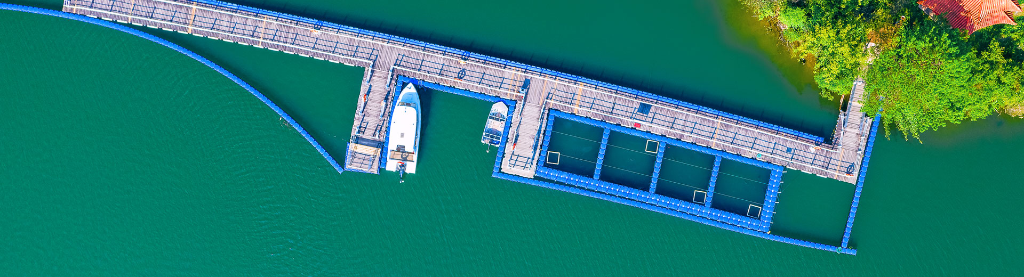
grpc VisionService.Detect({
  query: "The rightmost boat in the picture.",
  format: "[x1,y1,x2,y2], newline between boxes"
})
[481,101,508,152]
